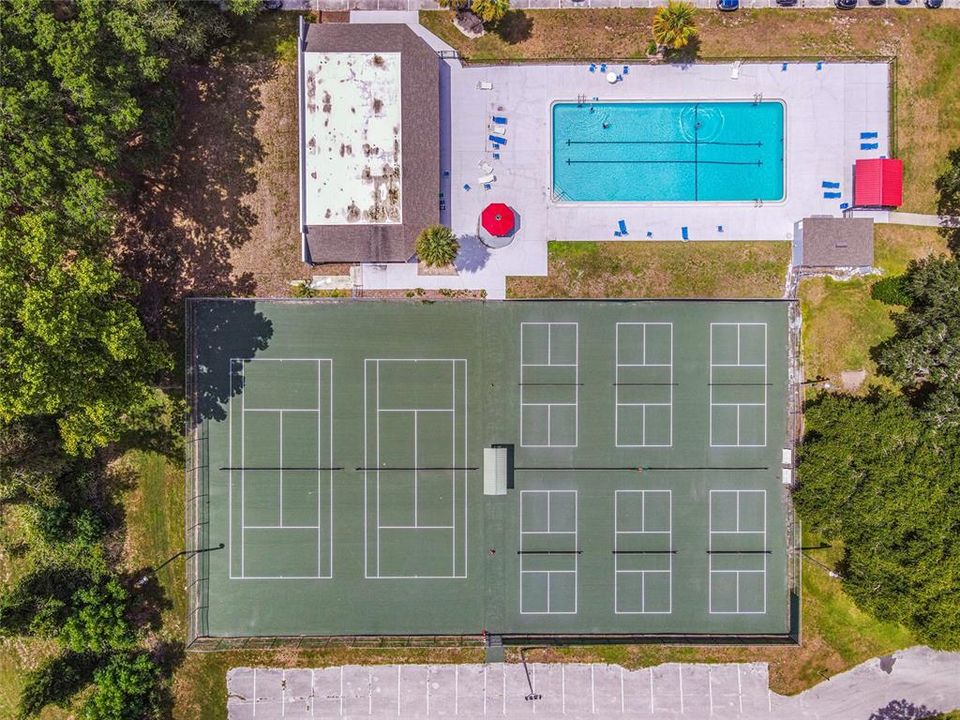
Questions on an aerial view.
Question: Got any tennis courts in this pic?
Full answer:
Yes, there's a tennis court down there.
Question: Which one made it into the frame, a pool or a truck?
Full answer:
Visible in the photo is a pool.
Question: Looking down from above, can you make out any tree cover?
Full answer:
Yes, some tree cover is visible.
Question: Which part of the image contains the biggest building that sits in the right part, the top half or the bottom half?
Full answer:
It is in the top half that the biggest building that sits in the right part appears.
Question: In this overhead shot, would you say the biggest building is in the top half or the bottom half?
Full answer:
You can find the biggest building in the top half.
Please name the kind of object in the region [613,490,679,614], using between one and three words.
sports court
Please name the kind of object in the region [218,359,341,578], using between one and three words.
tennis court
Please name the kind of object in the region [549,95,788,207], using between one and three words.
swimming pool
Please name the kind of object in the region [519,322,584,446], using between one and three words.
sports court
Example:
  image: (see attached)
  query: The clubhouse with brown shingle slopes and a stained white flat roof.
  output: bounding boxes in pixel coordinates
[300,15,441,269]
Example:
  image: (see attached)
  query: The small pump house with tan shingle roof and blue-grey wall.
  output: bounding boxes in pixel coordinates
[794,214,874,274]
